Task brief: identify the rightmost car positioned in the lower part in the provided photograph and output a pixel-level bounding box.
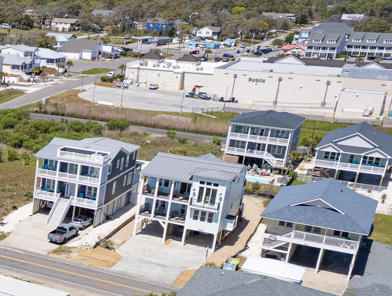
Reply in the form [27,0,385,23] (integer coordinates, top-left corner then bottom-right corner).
[67,211,94,227]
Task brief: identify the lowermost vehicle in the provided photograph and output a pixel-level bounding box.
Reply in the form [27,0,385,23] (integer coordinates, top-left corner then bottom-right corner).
[44,222,83,241]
